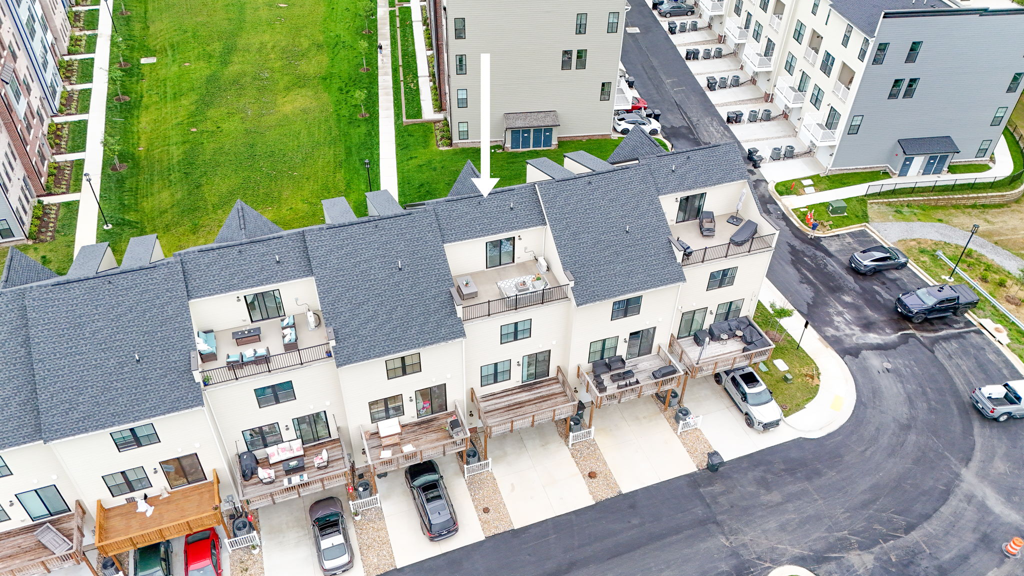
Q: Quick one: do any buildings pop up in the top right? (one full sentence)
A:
Yes, there is a building in the top right.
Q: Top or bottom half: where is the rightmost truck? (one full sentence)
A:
You can find the rightmost truck in the bottom half.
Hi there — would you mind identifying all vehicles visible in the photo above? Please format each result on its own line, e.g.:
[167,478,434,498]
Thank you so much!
[852,243,914,274]
[616,92,654,114]
[308,495,352,576]
[968,370,1024,418]
[618,115,666,135]
[895,282,980,320]
[713,366,785,433]
[407,465,460,542]
[660,2,696,16]
[181,529,226,576]
[127,545,171,576]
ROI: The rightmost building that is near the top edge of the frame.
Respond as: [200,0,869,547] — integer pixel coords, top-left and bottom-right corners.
[684,0,1024,183]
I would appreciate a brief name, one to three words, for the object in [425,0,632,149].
building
